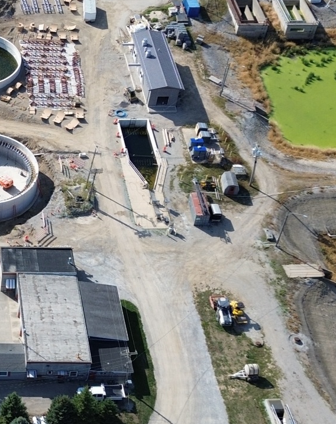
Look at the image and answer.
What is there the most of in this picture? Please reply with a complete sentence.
What you mostly see from above here is paved ground.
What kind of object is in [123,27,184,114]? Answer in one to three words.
building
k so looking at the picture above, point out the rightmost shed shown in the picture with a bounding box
[215,169,241,201]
